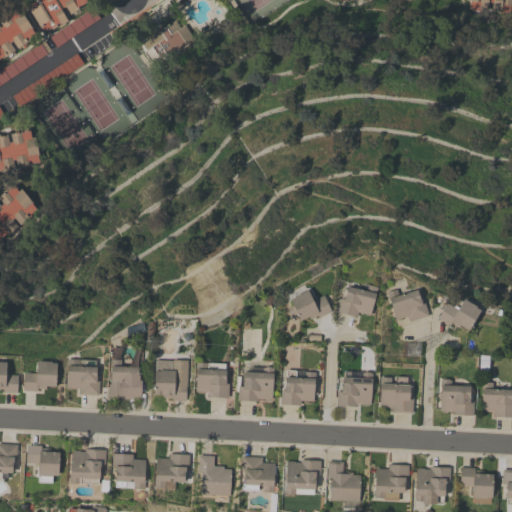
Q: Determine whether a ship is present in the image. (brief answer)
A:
No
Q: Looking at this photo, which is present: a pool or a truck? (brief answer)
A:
pool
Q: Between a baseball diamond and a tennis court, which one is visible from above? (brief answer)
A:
tennis court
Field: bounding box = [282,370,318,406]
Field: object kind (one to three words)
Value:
house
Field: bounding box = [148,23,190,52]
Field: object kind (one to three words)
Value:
building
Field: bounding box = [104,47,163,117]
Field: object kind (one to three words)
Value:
tennis court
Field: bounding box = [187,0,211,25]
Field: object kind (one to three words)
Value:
swimming pool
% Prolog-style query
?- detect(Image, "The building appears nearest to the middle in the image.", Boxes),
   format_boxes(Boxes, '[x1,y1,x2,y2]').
[292,294,334,320]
